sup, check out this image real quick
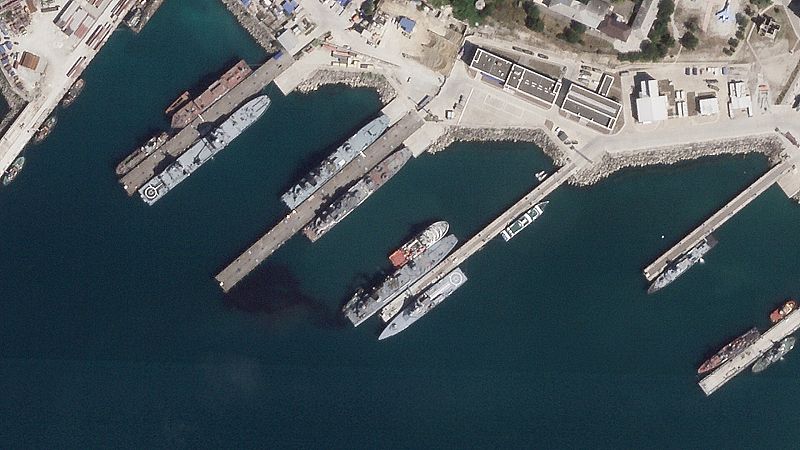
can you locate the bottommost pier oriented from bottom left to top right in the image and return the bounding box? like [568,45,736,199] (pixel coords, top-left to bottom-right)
[698,305,800,395]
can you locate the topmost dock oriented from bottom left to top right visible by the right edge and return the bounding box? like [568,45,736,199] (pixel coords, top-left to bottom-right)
[643,161,788,280]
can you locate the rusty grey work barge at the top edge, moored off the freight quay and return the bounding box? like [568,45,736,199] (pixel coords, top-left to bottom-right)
[120,0,165,37]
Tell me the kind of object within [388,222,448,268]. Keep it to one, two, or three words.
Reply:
ship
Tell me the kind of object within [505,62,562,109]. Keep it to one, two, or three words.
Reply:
building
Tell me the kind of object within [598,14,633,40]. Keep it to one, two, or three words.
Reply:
house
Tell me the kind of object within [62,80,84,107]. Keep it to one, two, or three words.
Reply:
boat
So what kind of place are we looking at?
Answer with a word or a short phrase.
port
